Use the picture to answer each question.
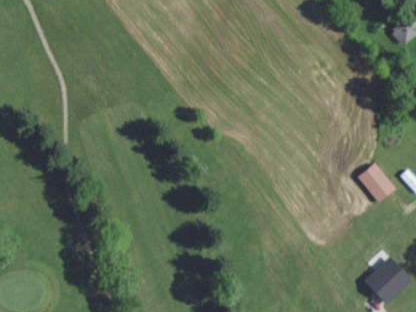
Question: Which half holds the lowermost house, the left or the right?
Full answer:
The lowermost house appears in the right half of the scene.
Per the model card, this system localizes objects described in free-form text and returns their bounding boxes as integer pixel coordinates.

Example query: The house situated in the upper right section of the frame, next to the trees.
[393,13,416,44]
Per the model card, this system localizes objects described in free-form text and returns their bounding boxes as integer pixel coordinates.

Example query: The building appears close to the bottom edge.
[366,250,413,304]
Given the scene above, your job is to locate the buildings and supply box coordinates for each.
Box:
[359,163,396,202]
[401,168,416,194]
[366,250,413,304]
[393,13,416,44]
